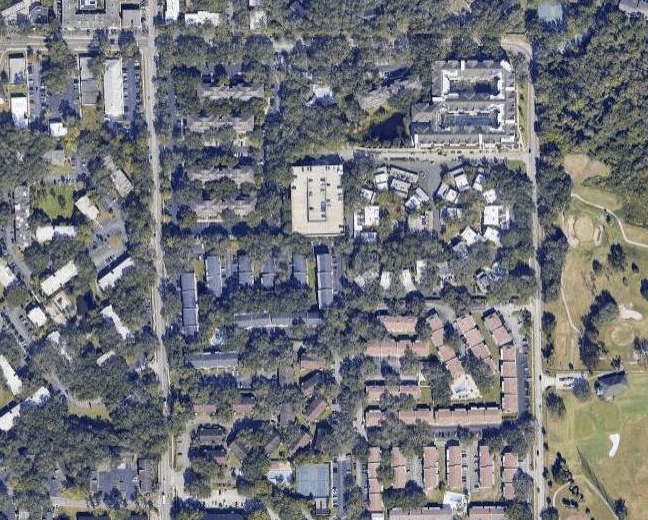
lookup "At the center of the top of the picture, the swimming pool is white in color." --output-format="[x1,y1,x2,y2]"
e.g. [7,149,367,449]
[313,85,333,105]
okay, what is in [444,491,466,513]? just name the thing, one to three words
swimming pool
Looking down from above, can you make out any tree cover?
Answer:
Yes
